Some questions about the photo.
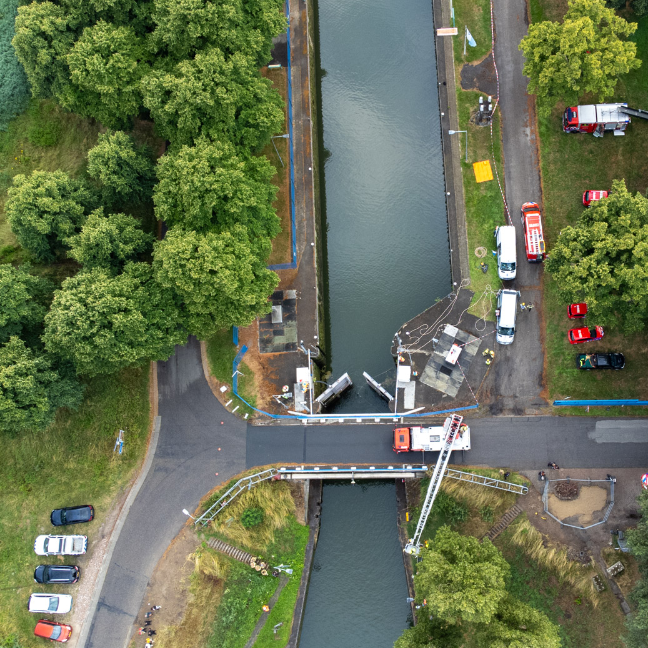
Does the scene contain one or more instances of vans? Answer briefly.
Yes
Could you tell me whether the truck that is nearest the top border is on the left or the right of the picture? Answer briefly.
right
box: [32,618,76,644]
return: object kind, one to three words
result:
car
